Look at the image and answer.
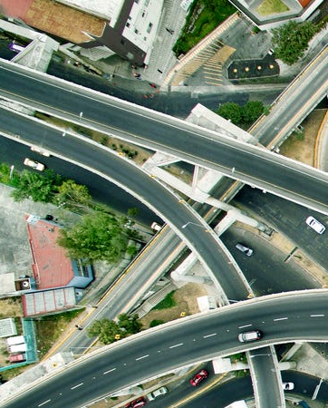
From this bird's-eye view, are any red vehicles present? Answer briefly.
Yes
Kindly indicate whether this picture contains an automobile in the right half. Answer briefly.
Yes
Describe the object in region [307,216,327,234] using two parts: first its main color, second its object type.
white car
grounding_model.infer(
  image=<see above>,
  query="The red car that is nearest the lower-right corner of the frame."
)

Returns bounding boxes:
[190,368,210,386]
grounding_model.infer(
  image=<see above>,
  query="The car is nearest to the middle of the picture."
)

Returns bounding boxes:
[146,219,166,233]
